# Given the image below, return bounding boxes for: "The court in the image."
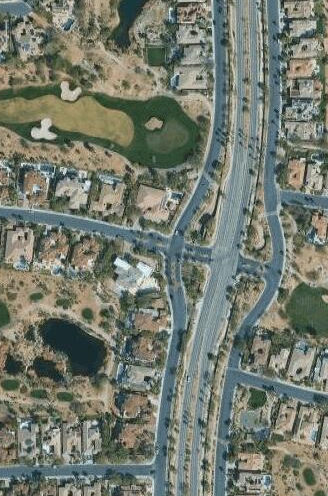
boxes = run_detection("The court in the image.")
[146,46,167,66]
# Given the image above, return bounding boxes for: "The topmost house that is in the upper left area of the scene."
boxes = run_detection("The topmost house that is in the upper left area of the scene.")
[48,0,77,25]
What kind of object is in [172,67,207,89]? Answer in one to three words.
house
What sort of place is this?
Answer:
residential area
